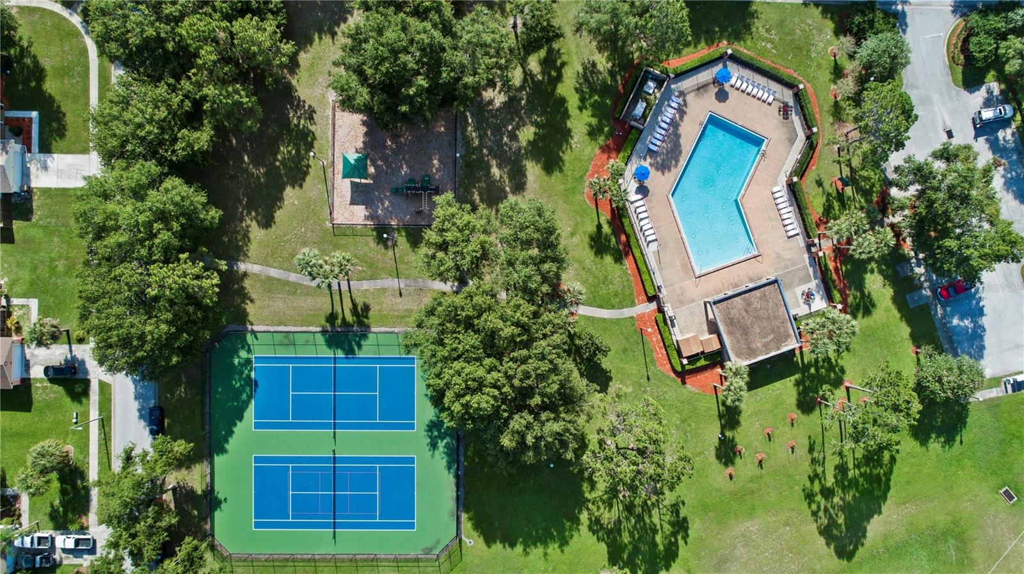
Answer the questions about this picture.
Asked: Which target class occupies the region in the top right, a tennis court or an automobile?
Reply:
automobile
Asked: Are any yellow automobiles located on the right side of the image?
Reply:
No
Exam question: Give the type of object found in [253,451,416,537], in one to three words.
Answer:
tennis court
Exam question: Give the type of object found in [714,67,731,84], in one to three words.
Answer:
umbrella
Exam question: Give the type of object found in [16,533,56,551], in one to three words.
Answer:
vehicle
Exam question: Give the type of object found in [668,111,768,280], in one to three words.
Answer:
swimming pool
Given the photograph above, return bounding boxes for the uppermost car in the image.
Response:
[972,106,1011,127]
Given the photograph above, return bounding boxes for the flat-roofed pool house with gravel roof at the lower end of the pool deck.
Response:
[703,275,800,364]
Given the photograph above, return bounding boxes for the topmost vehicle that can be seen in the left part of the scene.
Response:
[45,364,79,380]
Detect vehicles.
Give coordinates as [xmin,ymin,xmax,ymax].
[148,405,166,437]
[935,277,977,301]
[17,553,56,571]
[16,533,56,551]
[45,364,79,380]
[57,534,96,552]
[972,106,1011,127]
